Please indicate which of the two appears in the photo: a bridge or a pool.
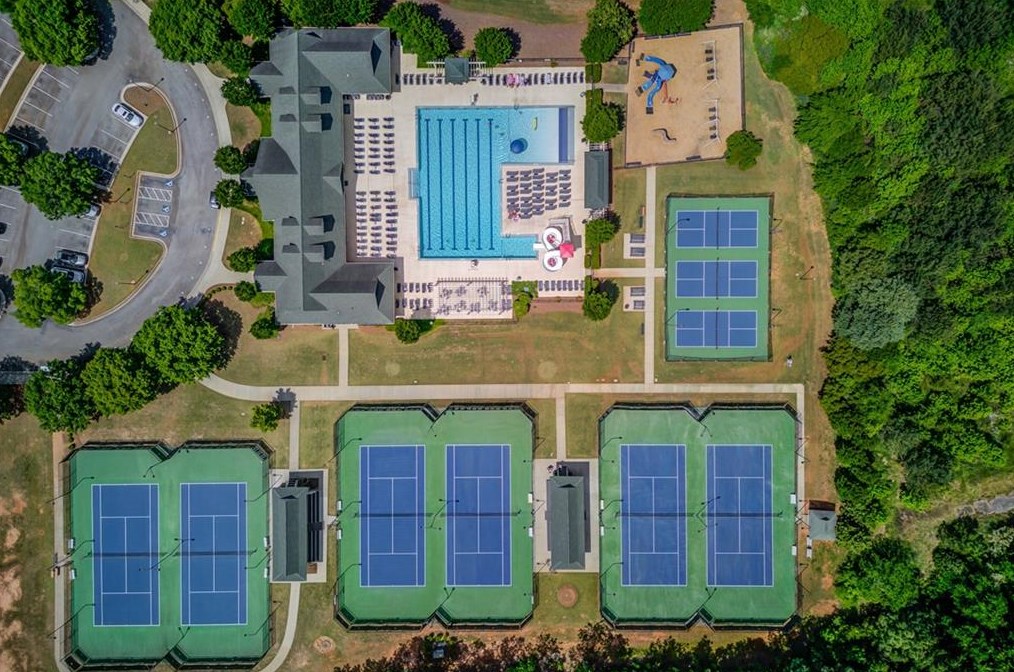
pool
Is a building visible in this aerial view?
Yes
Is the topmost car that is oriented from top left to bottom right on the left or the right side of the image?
left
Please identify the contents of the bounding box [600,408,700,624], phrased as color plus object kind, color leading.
green tennis court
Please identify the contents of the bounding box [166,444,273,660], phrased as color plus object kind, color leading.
green tennis court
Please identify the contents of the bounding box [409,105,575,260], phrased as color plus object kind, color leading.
blue swimming pool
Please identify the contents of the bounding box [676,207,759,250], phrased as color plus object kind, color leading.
blue sports court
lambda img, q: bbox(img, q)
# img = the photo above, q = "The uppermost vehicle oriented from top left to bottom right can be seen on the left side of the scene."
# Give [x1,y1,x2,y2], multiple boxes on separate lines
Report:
[111,103,140,126]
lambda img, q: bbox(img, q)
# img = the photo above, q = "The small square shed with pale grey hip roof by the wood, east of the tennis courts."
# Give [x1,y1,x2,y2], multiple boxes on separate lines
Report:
[804,507,836,540]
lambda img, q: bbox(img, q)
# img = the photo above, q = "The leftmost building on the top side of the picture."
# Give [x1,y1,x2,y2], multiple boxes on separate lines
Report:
[239,27,395,324]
